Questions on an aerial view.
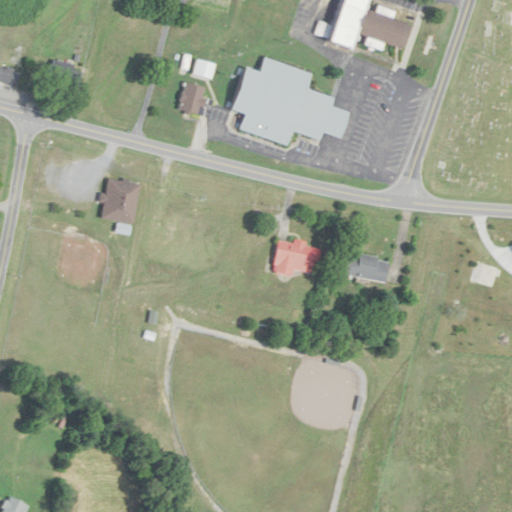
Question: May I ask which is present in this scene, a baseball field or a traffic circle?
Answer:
baseball field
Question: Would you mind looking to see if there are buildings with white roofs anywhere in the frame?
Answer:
Yes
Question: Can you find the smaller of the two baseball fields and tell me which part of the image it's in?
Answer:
left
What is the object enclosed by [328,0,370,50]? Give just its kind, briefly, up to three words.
building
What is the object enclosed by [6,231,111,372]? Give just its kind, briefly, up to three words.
baseball field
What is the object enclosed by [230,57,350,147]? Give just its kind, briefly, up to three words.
building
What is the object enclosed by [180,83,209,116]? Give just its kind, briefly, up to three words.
house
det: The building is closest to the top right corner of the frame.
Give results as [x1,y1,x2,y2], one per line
[362,5,413,52]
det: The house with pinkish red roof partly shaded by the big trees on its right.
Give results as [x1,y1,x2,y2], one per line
[273,239,320,276]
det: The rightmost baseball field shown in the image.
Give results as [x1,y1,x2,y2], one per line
[172,327,360,512]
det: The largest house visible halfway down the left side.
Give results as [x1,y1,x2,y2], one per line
[98,179,141,236]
